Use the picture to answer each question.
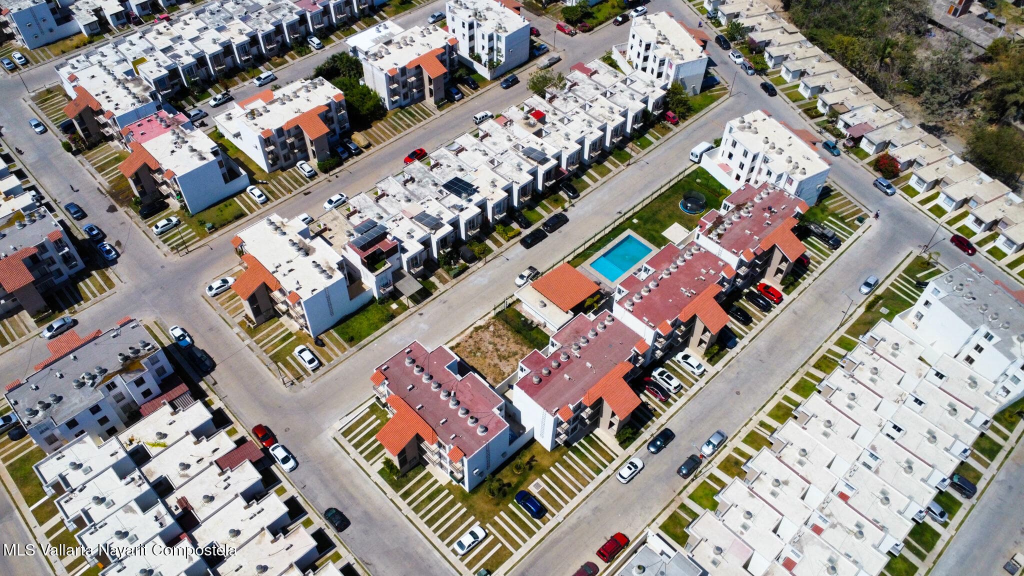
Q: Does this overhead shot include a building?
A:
Yes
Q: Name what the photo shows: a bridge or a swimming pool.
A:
swimming pool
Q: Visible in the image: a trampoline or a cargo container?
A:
trampoline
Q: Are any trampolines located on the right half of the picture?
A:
Yes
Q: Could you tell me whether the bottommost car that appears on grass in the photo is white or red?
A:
white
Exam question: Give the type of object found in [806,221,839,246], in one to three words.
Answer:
truck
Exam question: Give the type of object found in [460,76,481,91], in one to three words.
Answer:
car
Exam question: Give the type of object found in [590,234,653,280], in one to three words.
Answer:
swimming pool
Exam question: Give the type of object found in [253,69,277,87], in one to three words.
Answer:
vehicle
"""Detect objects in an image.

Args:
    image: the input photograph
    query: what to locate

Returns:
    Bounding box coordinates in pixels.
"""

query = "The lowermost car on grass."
[452,523,489,558]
